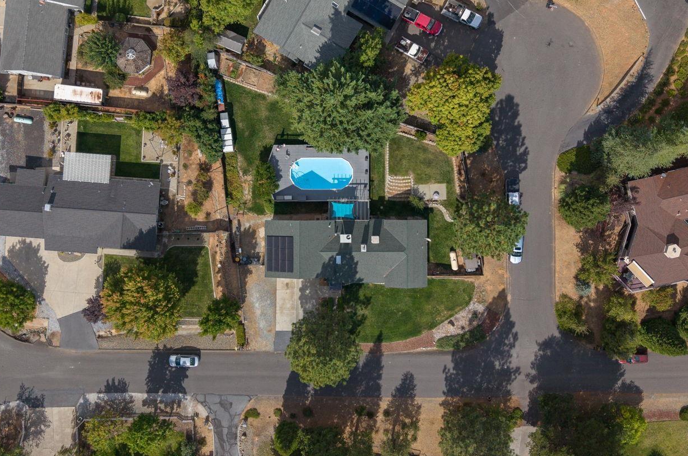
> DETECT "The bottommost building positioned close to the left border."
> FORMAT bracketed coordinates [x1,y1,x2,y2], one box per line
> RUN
[0,169,161,254]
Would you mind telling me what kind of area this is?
residential area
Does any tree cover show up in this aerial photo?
Yes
